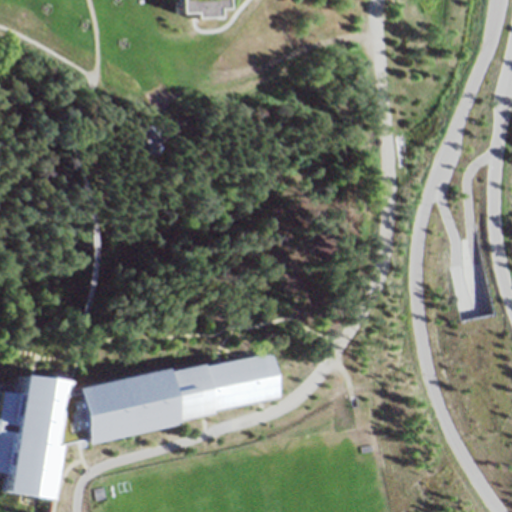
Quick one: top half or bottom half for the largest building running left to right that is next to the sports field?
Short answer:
bottom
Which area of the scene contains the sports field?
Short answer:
bottom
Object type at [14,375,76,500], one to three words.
building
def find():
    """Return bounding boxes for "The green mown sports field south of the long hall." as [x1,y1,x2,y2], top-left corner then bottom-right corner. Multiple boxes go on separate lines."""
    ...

[85,437,383,512]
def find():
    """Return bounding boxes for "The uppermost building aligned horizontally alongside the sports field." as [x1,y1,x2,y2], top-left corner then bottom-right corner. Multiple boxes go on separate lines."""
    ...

[84,354,281,445]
